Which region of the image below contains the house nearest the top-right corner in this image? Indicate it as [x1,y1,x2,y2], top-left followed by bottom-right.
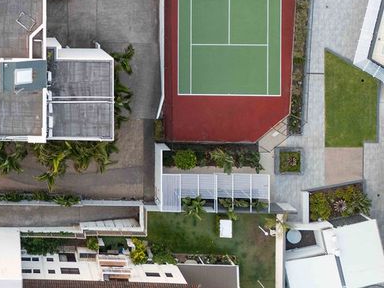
[345,0,384,82]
